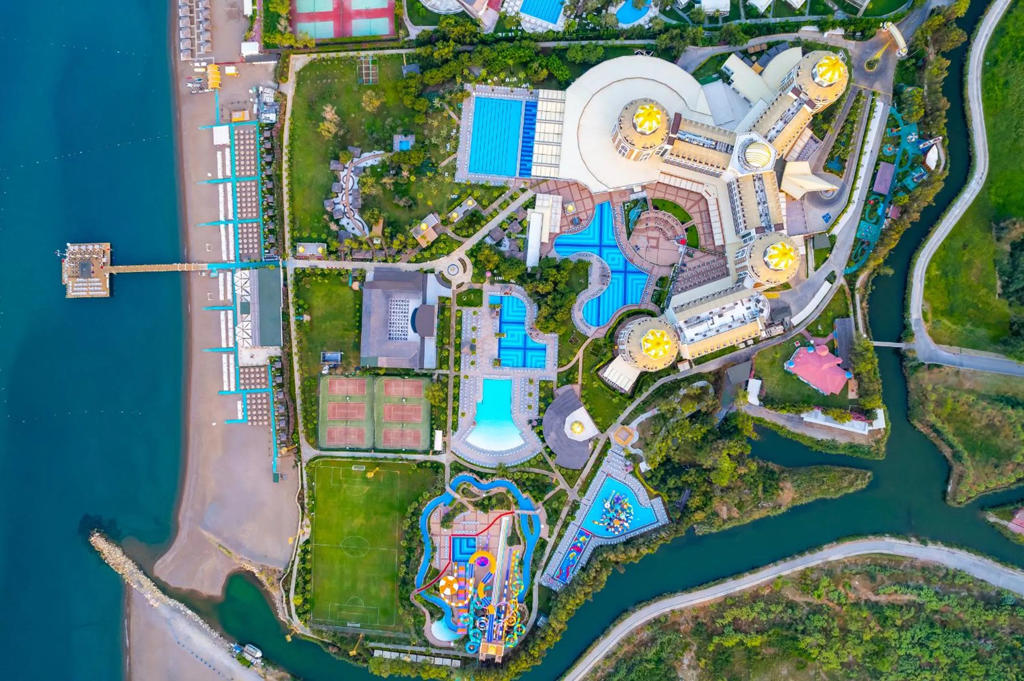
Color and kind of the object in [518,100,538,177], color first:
blue swimming pool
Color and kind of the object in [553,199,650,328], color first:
blue swimming pool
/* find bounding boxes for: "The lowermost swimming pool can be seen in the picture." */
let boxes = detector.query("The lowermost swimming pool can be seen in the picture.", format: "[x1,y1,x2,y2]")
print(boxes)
[431,617,464,642]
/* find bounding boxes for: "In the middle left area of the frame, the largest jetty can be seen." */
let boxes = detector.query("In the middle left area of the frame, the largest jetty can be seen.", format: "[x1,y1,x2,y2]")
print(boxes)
[62,242,208,298]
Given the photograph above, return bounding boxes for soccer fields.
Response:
[310,464,406,629]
